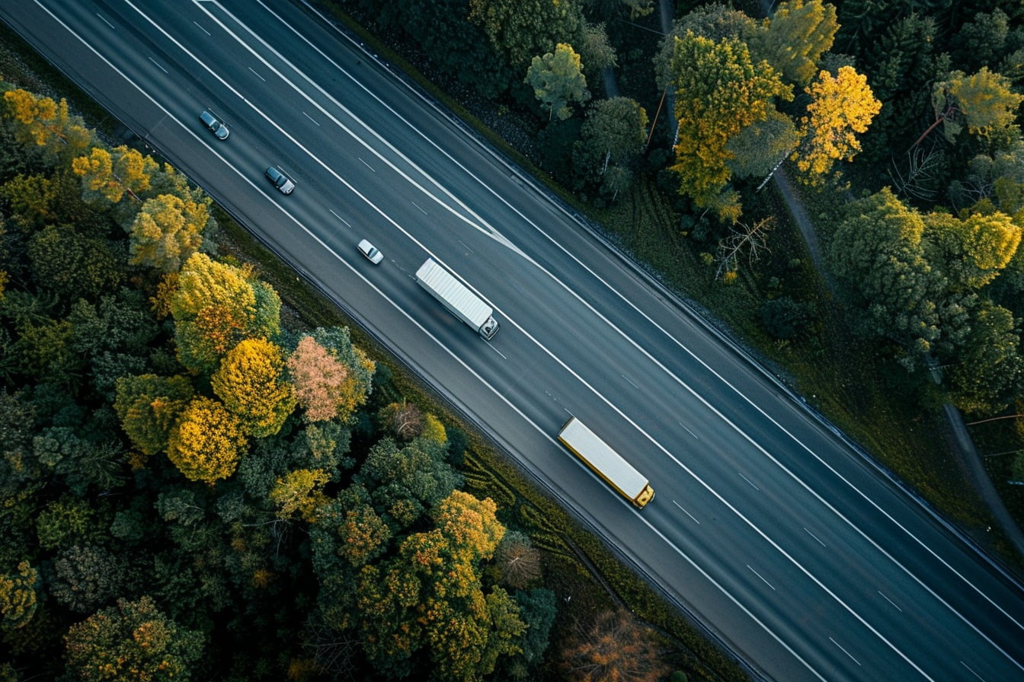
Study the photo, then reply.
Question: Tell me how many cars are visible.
3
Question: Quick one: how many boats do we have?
0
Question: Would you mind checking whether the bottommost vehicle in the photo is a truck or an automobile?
truck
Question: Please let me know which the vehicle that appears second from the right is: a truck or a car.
truck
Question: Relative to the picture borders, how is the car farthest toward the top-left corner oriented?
on a diagonal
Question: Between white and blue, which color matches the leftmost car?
blue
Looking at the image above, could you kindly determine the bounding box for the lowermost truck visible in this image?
[556,417,660,512]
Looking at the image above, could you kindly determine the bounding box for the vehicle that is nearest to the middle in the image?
[416,258,507,342]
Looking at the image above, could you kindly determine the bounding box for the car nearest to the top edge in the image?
[196,109,234,143]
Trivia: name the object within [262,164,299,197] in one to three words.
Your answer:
car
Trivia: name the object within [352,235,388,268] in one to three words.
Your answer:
car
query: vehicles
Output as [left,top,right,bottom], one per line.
[416,258,507,342]
[352,235,388,268]
[556,417,660,512]
[262,164,299,197]
[196,109,234,143]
